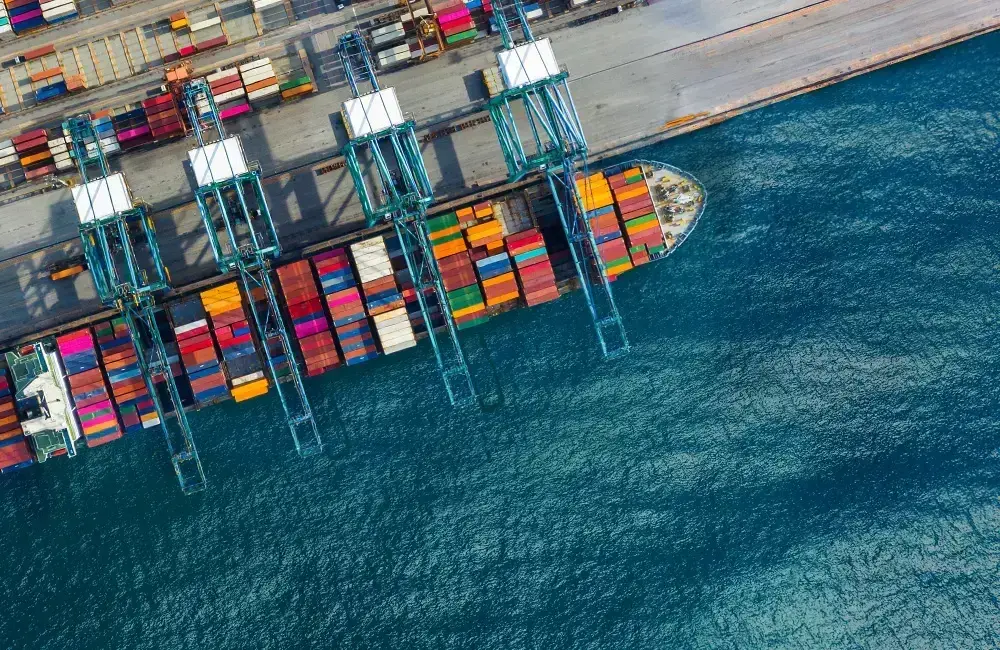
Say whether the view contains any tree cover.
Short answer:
No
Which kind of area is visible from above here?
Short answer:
port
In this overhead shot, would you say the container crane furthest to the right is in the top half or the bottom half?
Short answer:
top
